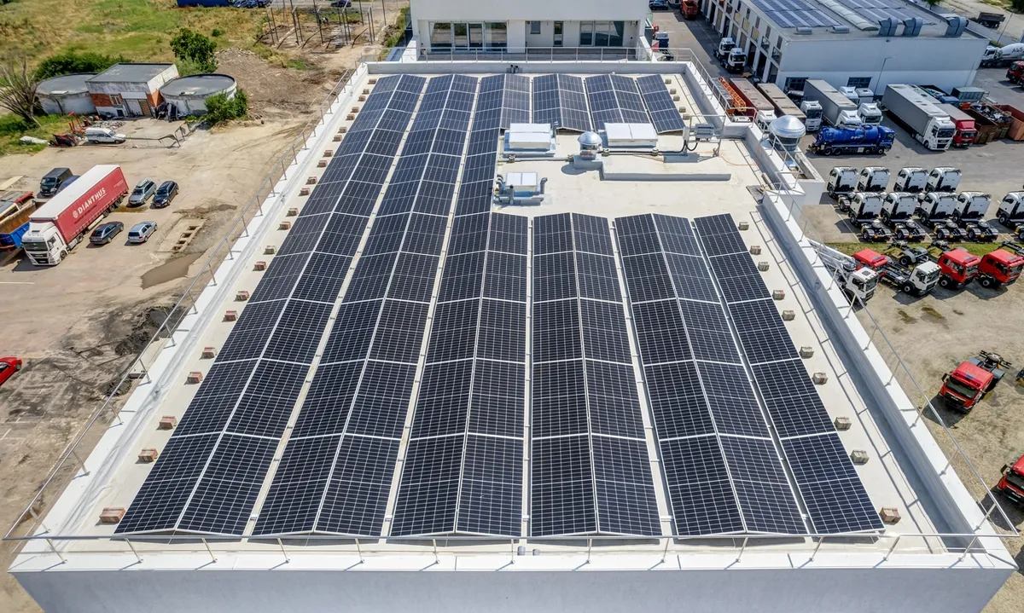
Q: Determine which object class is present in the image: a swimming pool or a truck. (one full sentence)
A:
The image shows a truck.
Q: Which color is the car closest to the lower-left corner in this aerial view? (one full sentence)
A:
The color of the car closest to the lower-left corner is red.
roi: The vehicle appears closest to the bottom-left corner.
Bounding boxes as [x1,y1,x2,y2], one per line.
[0,354,27,388]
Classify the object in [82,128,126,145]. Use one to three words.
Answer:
car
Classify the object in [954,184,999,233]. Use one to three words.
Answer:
truck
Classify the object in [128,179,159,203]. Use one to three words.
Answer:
car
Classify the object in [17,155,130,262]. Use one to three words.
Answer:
truck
